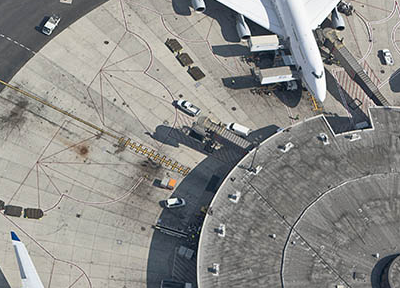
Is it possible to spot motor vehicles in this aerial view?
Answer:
Yes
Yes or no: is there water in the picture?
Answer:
No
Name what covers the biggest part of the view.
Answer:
paved ground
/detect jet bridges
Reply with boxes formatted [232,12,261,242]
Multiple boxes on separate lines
[188,119,255,158]
[314,34,394,108]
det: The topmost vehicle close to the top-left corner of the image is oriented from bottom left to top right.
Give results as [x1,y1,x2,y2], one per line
[42,14,61,34]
